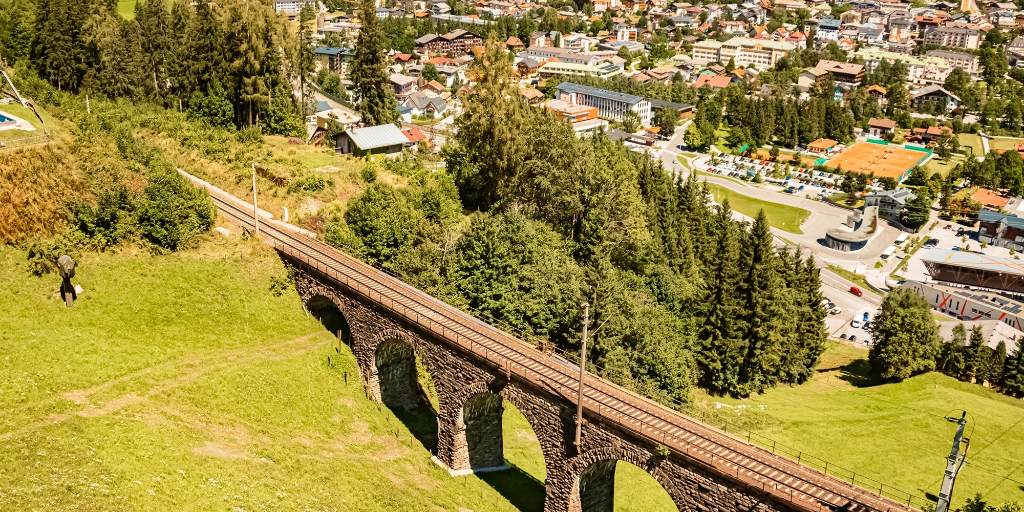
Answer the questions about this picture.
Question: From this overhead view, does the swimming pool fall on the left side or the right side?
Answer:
left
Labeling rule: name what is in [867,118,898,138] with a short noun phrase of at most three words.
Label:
house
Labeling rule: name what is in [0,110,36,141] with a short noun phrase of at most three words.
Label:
swimming pool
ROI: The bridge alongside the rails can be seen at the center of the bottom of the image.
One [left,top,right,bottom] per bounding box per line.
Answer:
[261,233,913,512]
